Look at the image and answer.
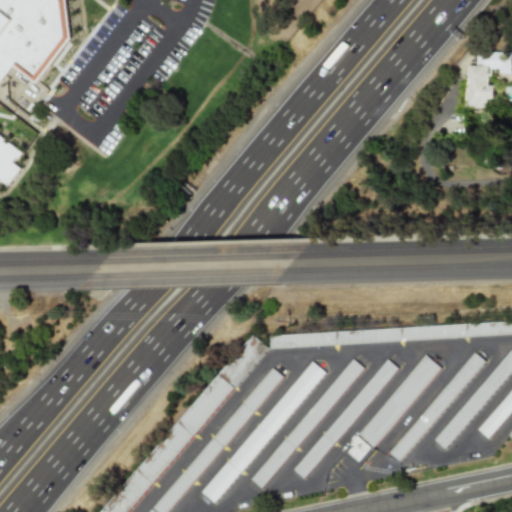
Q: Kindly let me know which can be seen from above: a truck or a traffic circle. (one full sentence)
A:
I can see a truck in this picture.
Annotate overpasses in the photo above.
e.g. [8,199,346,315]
[80,238,312,290]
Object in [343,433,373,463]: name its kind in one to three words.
building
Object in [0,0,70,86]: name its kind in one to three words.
building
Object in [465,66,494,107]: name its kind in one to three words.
house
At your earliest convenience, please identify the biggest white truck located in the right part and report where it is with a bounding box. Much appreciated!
[320,40,350,78]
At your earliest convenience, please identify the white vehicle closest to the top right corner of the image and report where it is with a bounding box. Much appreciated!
[434,10,448,26]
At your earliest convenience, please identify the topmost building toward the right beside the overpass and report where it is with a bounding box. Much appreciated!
[271,322,512,350]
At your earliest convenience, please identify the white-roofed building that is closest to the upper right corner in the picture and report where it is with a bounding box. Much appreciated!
[478,50,512,76]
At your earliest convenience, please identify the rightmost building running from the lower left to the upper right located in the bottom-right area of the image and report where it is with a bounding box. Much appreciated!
[479,393,512,440]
